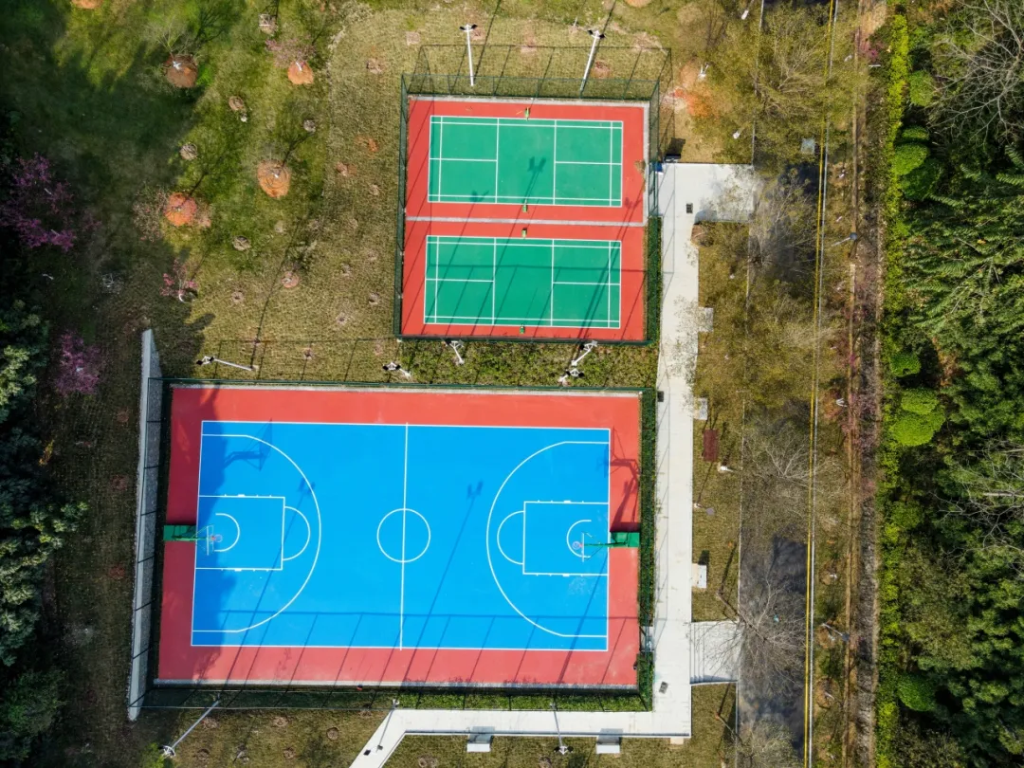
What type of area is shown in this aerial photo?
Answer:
sports ground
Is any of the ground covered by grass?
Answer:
Yes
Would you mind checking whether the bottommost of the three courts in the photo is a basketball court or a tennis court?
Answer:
basketball court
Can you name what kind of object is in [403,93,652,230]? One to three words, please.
sports court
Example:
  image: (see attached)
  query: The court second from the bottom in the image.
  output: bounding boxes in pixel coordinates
[402,224,649,346]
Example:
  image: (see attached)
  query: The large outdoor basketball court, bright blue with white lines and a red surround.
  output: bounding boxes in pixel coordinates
[155,383,641,692]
